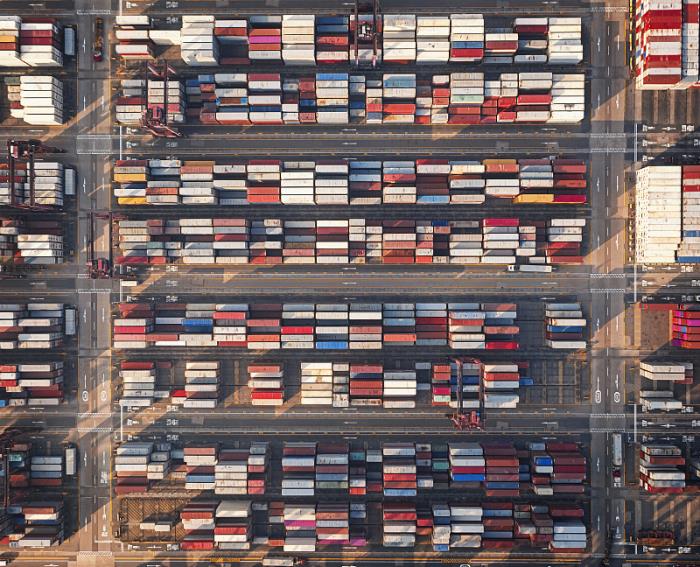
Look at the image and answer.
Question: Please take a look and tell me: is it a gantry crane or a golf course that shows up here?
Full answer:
This aerial view contains a gantry crane.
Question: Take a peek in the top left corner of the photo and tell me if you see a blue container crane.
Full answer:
No, no blue container crane is visible in the top left corner of the photo.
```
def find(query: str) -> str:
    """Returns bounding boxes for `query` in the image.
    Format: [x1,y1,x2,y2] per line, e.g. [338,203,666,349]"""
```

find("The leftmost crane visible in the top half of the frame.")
[5,138,64,213]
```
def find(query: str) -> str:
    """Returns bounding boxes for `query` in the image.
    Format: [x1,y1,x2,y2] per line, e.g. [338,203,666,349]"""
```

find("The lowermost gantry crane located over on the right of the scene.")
[445,356,484,429]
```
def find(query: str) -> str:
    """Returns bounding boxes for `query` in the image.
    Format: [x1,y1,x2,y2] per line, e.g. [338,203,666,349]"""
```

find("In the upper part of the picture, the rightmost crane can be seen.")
[347,0,382,71]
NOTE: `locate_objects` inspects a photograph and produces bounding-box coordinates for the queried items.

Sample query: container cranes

[139,58,188,137]
[84,209,137,279]
[5,138,64,213]
[347,0,382,71]
[445,356,484,429]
